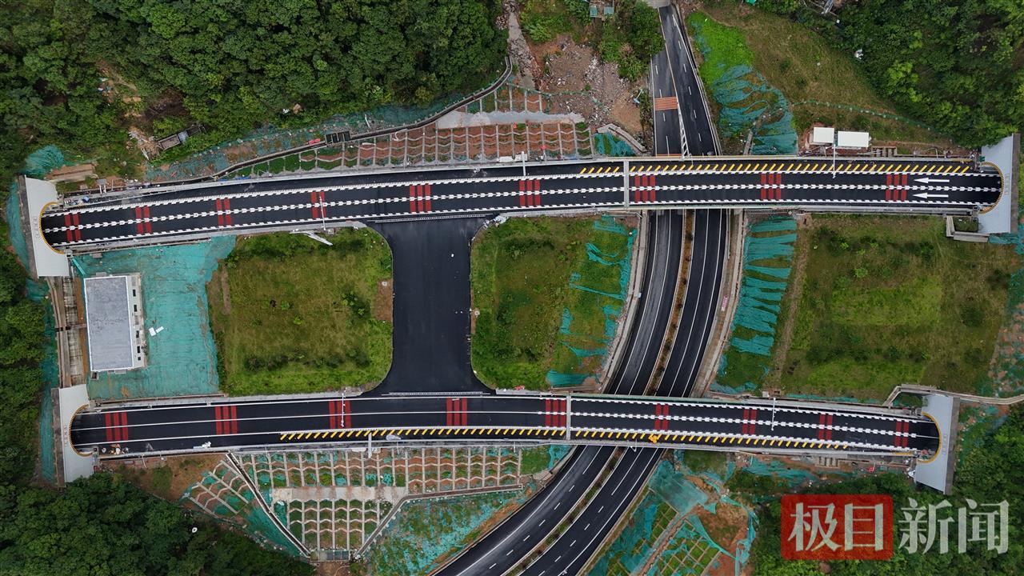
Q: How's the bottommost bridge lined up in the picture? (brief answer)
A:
from side to side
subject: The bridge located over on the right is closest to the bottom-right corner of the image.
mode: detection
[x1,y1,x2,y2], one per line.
[550,392,734,452]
